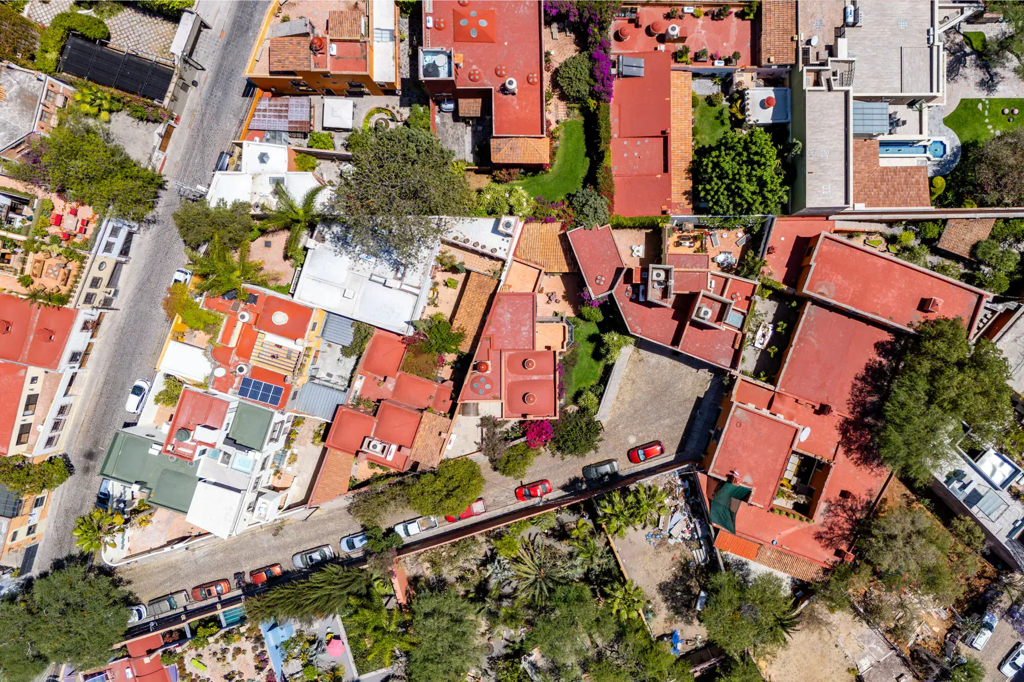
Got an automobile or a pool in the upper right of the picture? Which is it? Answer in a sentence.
The one visible in the upper right of the picture is a pool.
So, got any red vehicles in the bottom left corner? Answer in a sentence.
Yes, there is a red vehicle in the bottom left corner.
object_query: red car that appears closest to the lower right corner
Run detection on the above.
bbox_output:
[626,440,667,464]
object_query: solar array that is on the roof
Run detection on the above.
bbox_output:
[238,376,284,406]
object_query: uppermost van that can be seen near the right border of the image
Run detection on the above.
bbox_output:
[962,610,1001,655]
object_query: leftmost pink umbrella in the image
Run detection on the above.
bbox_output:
[325,637,346,658]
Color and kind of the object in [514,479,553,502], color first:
red car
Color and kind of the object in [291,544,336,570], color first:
gray car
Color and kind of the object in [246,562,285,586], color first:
red car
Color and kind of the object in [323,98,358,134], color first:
white gazebo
